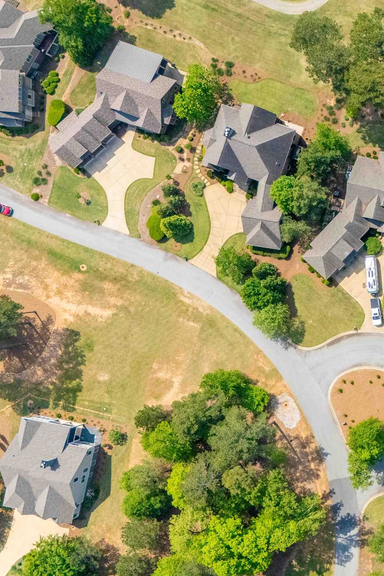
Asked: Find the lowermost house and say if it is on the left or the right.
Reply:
left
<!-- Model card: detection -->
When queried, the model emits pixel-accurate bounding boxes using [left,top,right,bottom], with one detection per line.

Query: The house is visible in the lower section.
[0,414,103,523]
